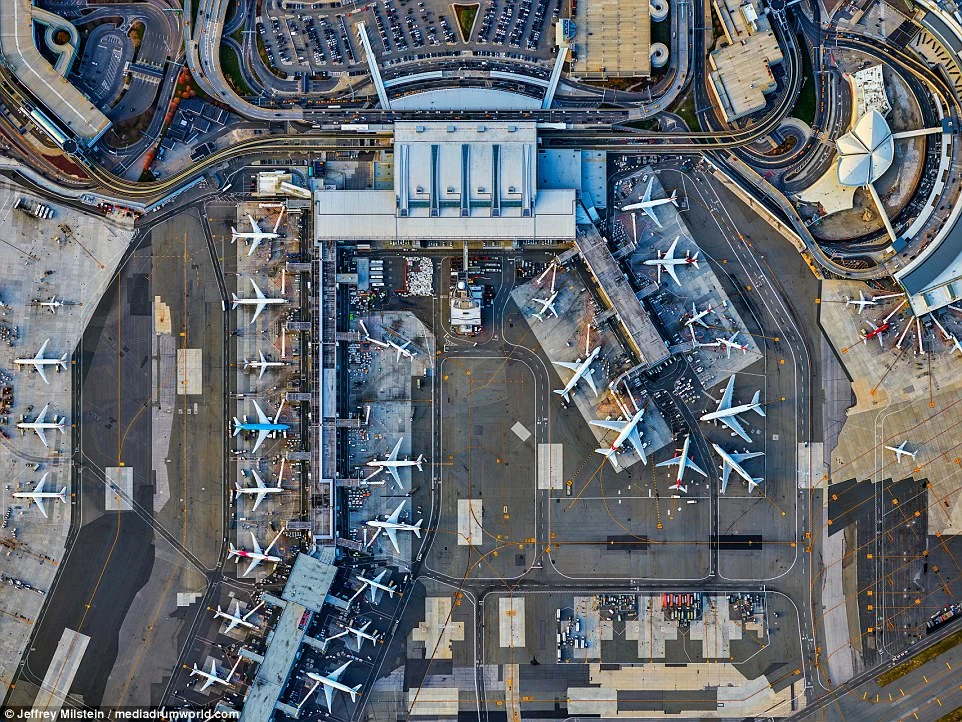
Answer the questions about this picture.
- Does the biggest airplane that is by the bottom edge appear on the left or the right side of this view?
left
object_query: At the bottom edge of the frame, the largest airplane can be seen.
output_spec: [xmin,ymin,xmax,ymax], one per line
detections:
[306,659,365,714]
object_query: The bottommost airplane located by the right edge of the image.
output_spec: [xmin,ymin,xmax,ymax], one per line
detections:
[885,440,918,464]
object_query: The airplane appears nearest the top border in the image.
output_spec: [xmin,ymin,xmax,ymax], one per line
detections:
[622,176,678,227]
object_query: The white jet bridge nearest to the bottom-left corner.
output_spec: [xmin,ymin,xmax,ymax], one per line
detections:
[225,653,243,683]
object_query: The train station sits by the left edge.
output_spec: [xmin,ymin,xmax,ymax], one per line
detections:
[23,103,81,156]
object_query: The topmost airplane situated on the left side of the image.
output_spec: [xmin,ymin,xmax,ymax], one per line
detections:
[233,214,279,257]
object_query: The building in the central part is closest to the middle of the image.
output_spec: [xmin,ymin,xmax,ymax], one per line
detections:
[450,282,484,330]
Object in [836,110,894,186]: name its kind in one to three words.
building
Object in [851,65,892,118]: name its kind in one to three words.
building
